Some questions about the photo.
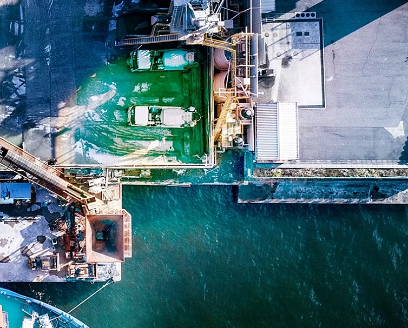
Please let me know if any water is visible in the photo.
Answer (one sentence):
Yes, water shows up in the scene.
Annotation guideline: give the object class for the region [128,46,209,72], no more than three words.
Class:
truck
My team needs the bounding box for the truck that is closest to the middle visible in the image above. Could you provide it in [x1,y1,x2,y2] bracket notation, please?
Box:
[126,100,206,128]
